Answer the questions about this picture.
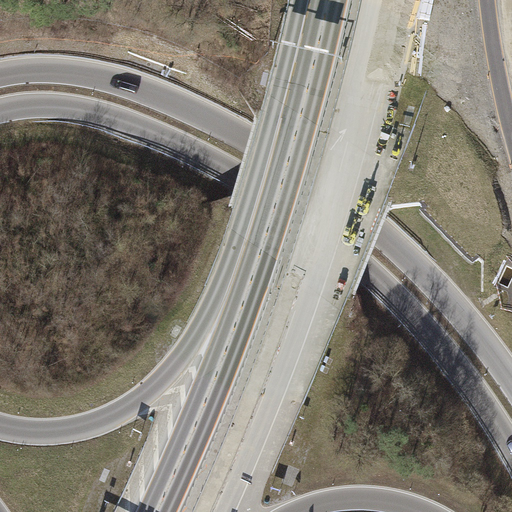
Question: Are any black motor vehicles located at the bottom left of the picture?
No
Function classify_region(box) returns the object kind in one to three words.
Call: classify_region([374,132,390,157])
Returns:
vehicle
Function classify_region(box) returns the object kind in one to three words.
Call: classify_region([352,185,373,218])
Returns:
work vehicle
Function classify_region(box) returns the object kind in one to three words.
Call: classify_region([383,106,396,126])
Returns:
vehicle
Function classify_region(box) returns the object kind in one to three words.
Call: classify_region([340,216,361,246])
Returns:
work vehicle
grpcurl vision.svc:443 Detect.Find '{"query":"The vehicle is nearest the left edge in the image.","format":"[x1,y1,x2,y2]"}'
[111,76,138,93]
